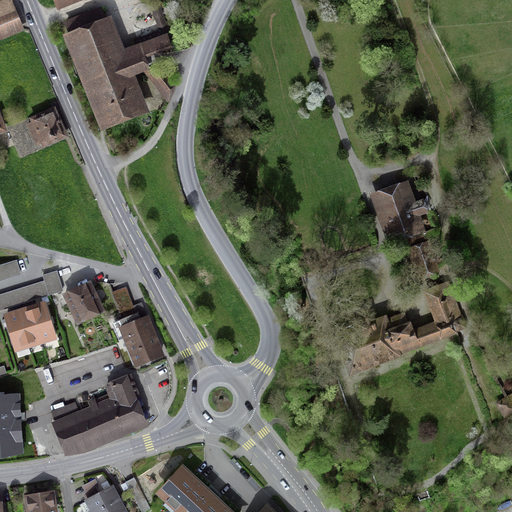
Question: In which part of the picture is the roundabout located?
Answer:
bottom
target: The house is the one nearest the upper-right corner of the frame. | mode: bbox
[370,180,431,240]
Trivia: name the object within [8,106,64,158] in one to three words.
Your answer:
house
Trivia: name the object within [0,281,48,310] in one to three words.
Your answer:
building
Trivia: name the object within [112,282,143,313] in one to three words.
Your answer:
building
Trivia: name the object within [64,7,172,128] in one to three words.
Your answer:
barn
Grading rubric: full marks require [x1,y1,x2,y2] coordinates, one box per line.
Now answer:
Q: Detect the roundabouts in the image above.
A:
[184,362,258,436]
